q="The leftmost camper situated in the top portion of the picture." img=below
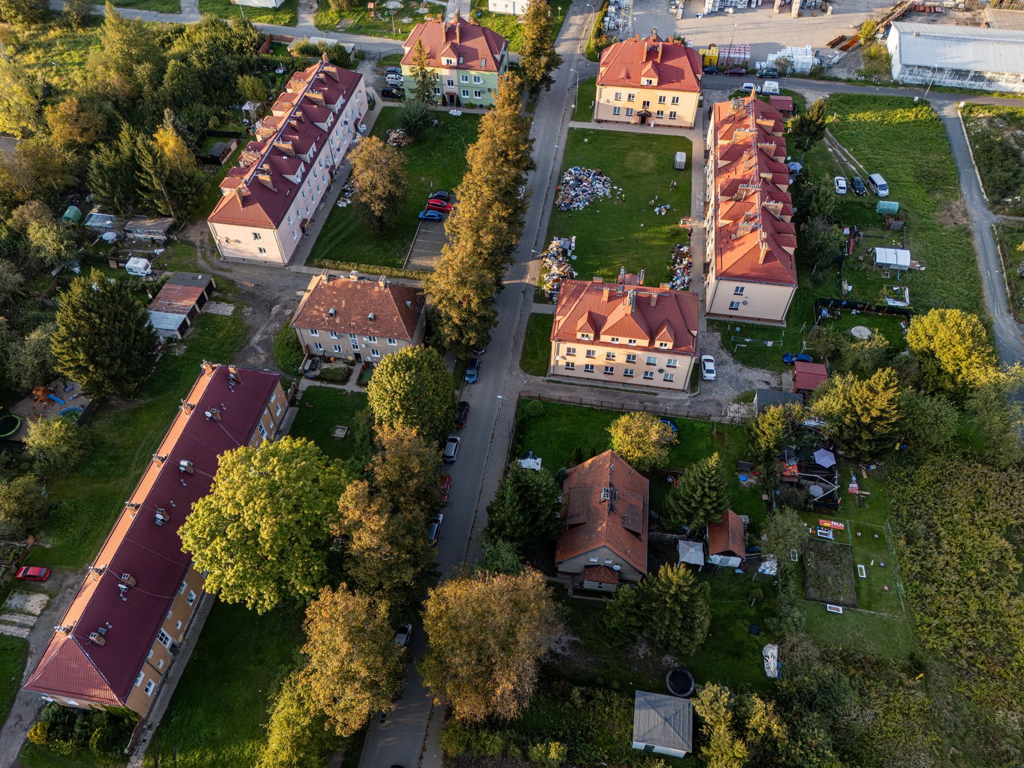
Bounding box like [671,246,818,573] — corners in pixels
[121,255,158,276]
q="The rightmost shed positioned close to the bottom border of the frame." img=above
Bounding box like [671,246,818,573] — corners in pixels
[631,688,693,760]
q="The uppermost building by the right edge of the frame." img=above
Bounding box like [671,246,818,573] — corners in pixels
[885,28,1024,94]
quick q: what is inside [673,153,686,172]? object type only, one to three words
vehicle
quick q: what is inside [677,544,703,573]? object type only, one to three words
gazebo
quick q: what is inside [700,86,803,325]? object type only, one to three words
house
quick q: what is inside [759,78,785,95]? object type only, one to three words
camper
